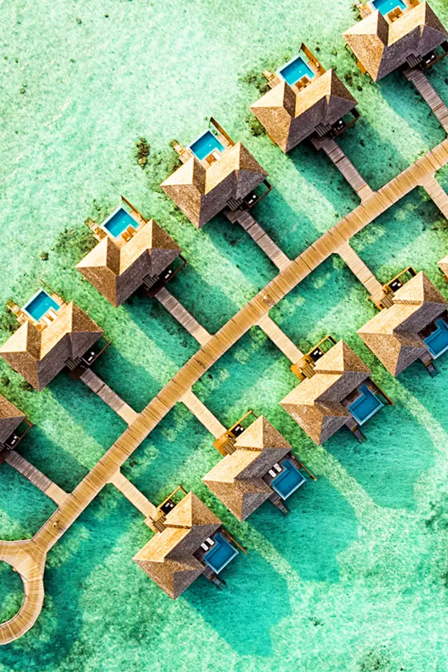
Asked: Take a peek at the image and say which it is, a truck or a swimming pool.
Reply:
swimming pool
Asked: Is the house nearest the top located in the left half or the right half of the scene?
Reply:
right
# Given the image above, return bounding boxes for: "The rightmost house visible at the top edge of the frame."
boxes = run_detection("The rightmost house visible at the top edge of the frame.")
[343,0,448,91]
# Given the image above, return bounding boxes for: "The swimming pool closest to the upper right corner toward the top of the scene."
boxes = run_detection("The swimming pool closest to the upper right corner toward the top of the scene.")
[366,0,408,19]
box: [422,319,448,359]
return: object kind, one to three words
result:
swimming pool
